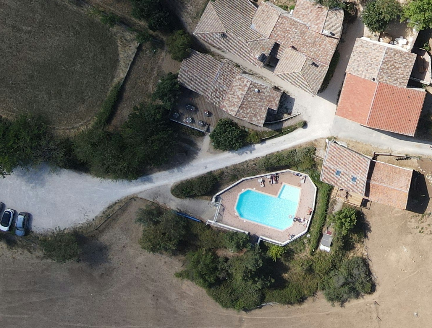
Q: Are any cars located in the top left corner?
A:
No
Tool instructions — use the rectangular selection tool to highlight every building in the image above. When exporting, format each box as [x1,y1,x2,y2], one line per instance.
[193,0,348,97]
[320,225,334,249]
[320,135,414,210]
[177,47,288,126]
[335,38,427,139]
